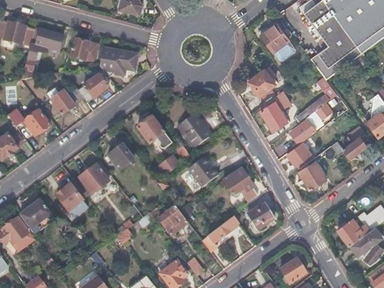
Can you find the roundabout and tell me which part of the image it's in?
top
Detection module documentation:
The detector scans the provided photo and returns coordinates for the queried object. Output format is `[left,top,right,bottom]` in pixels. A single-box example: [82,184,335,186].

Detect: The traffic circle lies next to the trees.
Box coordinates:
[158,11,235,88]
